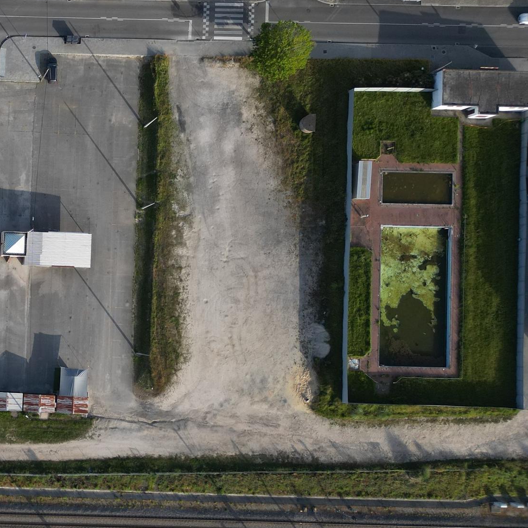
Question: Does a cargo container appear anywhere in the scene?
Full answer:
No, there's no cargo container here.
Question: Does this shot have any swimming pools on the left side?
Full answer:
No, no swimming pool can be made out on the left side.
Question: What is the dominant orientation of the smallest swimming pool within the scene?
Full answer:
The smallest swimming pool is oriented from left to right.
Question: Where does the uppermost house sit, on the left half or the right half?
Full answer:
The uppermost house appears in the right half of the scene.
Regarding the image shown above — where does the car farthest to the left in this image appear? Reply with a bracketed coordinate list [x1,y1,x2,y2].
[46,56,58,83]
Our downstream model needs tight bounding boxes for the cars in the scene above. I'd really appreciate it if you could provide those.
[46,56,58,83]
[519,12,528,22]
